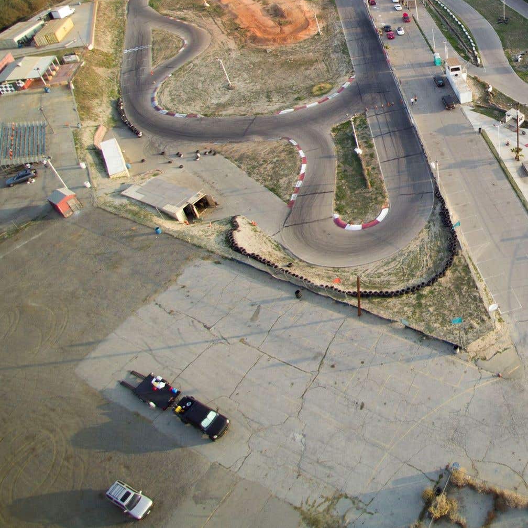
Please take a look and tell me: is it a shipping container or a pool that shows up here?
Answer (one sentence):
Looking from above, you can make out a shipping container.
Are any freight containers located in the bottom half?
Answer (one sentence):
No, no freight container appears in the bottom half.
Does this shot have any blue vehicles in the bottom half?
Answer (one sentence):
No, the scene shows no blue vehicle in the bottom half.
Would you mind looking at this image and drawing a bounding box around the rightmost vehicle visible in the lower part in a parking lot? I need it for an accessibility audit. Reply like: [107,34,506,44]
[171,394,230,441]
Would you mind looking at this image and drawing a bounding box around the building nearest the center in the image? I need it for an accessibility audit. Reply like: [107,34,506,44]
[120,177,223,225]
